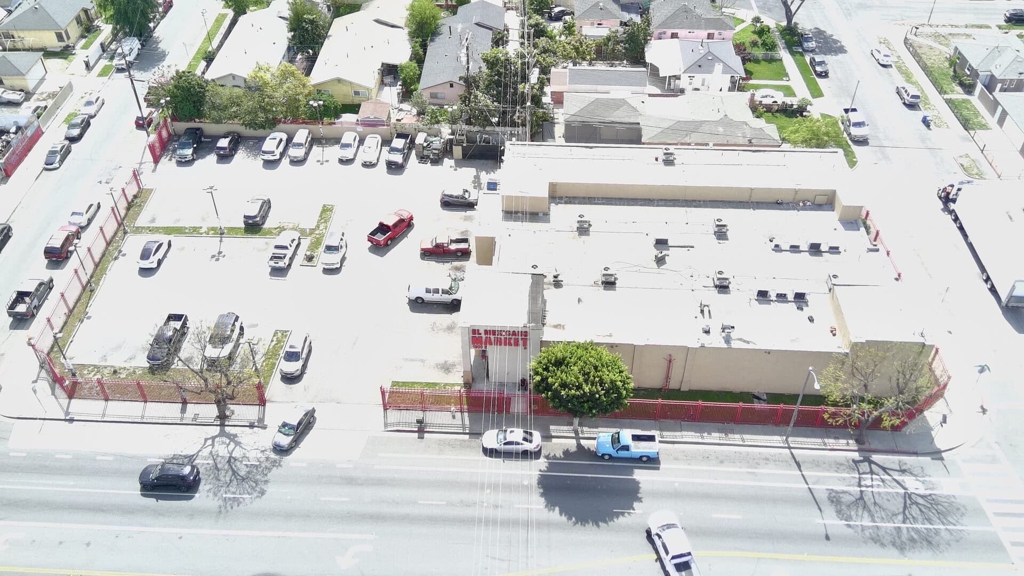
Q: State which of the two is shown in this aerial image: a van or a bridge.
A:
van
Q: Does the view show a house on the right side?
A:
Yes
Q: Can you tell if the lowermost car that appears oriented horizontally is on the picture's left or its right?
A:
left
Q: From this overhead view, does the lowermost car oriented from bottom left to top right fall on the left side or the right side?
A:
left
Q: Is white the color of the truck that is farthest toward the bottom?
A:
Yes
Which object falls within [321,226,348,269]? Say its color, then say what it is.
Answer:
white car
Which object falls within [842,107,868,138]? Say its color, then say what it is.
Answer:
white truck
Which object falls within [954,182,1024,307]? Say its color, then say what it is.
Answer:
white trailer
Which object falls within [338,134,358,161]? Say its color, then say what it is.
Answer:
white car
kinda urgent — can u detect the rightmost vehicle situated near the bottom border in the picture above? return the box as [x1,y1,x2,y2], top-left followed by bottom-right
[650,522,703,576]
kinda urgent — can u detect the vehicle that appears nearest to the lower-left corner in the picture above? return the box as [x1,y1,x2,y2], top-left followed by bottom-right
[137,462,204,493]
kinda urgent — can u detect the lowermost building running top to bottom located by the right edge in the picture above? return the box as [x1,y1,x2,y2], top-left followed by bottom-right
[995,94,1024,160]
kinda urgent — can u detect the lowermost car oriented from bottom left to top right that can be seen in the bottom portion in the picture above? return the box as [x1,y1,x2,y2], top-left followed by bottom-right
[270,403,323,453]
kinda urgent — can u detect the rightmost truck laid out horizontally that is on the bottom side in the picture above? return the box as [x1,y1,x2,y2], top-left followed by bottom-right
[594,432,662,462]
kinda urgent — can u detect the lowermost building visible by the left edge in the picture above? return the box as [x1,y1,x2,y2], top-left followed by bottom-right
[0,52,46,94]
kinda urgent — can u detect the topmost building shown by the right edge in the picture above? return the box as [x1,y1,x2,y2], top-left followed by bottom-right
[955,42,1024,93]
